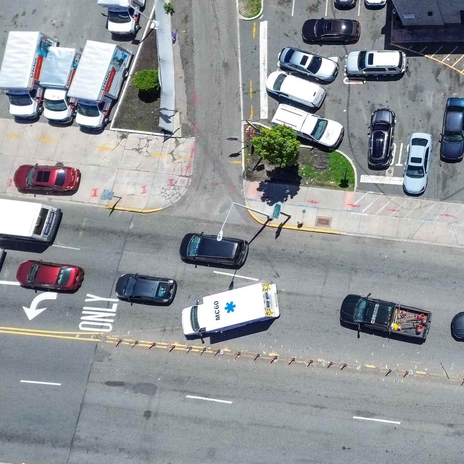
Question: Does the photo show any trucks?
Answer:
Yes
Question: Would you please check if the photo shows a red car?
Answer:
Yes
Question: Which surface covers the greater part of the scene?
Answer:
paved ground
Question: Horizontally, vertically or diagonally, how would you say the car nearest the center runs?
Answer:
horizontally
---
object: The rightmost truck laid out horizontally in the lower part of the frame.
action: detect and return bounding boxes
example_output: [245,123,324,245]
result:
[337,296,432,339]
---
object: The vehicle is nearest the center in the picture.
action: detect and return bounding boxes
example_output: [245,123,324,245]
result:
[177,232,251,269]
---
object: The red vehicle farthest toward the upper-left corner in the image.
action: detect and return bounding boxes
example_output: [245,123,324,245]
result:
[13,162,83,193]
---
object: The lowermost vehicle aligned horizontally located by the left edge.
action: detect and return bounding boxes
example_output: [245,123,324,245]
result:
[15,259,88,293]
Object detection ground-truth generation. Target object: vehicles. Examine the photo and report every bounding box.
[177,232,251,269]
[301,16,361,45]
[365,109,395,171]
[179,285,283,343]
[337,296,432,339]
[263,71,329,111]
[113,273,181,305]
[450,312,464,339]
[39,49,82,127]
[0,199,67,245]
[344,49,408,79]
[401,131,434,198]
[0,31,61,118]
[13,162,83,193]
[98,0,146,35]
[439,97,464,163]
[69,41,134,128]
[274,48,341,85]
[15,259,88,293]
[264,98,347,146]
